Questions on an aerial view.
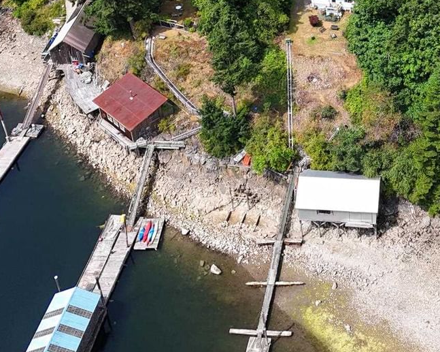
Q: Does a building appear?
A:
Yes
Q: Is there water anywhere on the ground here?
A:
Yes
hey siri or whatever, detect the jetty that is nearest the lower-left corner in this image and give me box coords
[79,215,137,291]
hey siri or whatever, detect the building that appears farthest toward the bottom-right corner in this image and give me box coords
[294,175,382,233]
